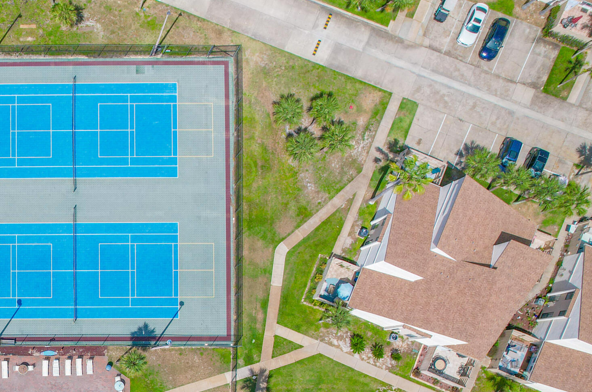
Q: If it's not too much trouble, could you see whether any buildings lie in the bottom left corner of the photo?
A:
No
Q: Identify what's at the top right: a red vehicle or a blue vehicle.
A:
blue vehicle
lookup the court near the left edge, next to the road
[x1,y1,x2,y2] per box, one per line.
[0,56,236,346]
